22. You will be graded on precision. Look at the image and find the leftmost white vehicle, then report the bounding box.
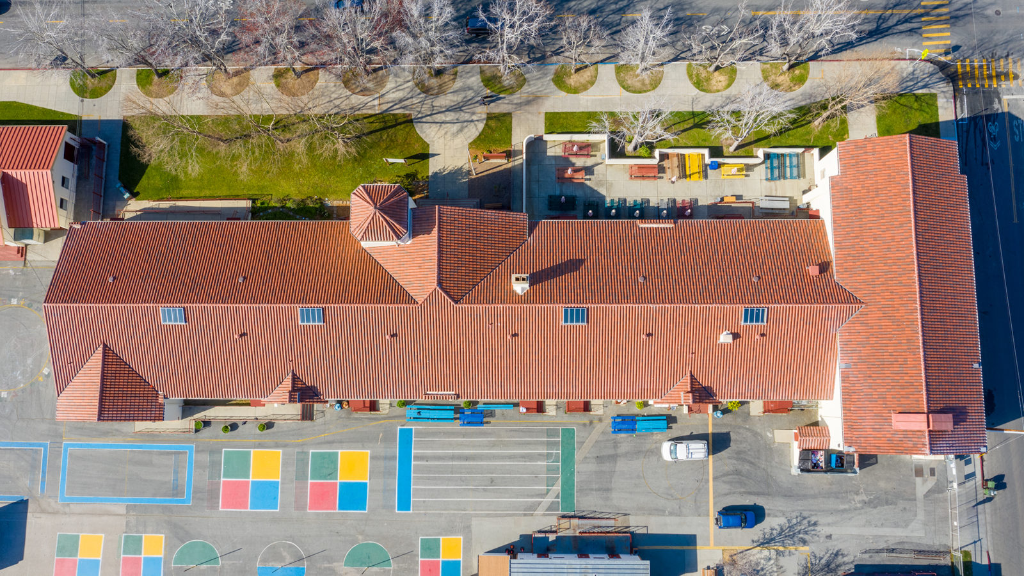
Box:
[661,440,710,462]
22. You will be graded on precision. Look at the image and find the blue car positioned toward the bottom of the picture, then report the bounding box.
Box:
[714,509,755,531]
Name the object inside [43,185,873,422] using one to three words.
building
